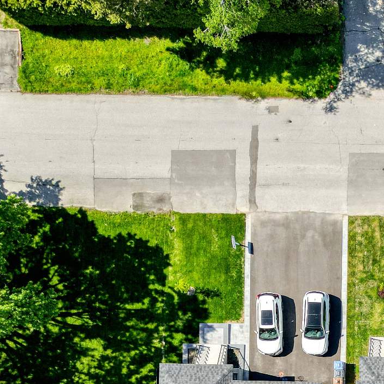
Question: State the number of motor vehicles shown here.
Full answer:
Looking from above, you can make out 2 motor vehicles.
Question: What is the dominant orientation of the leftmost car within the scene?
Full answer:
In this picture, the leftmost car lies up and down.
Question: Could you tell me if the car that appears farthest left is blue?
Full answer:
No, the color of the car that appears farthest left is white.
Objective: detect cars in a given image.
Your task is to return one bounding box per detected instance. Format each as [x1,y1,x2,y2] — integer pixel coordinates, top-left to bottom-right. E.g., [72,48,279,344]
[252,291,284,355]
[298,290,331,356]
